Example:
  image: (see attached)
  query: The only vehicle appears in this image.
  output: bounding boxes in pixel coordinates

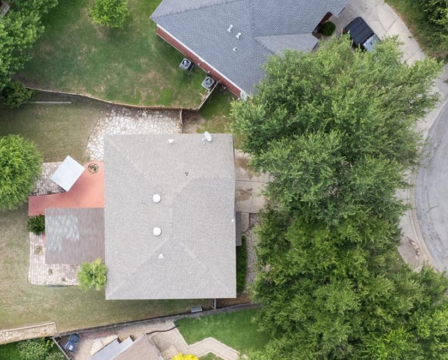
[335,2,384,56]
